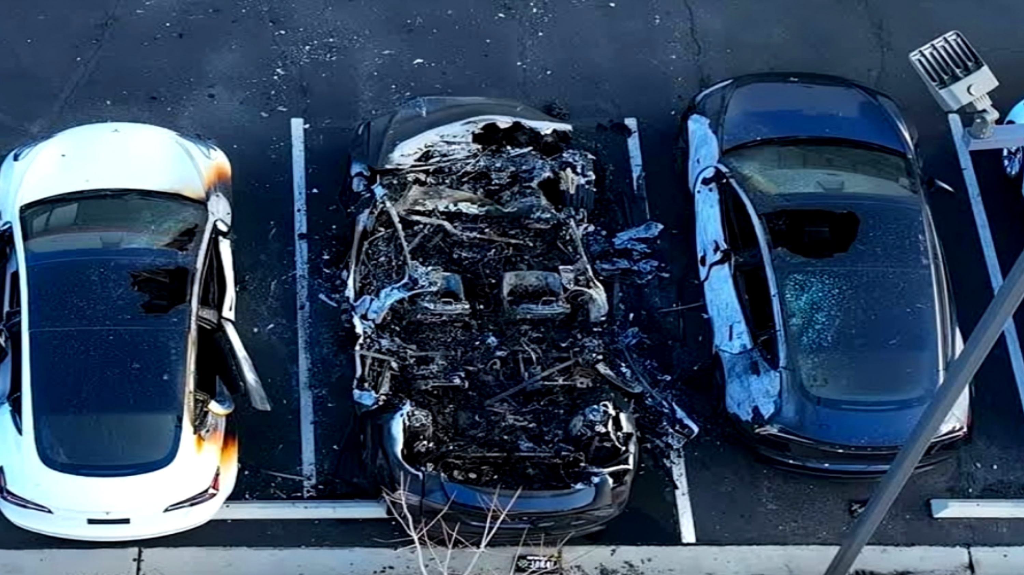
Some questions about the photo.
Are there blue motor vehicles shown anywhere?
Yes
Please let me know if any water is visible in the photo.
No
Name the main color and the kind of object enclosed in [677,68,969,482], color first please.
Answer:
blue car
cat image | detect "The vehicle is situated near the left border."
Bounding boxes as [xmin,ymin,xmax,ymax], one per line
[0,121,274,547]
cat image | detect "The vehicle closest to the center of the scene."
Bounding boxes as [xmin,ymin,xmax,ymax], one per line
[346,93,637,536]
